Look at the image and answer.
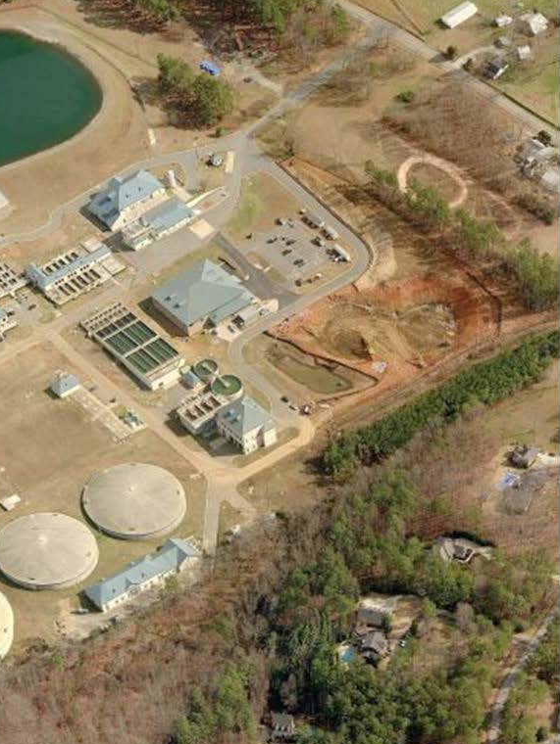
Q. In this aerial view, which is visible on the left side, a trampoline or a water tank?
water tank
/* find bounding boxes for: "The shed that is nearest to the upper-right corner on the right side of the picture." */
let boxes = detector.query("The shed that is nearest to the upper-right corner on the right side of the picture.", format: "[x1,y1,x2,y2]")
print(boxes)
[513,14,550,36]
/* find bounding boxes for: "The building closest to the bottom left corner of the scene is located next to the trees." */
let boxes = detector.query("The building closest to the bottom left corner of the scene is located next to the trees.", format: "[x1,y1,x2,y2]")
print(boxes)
[81,540,192,618]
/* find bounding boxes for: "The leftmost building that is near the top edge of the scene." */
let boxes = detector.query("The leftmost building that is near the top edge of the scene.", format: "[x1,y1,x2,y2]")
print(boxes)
[439,5,477,29]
